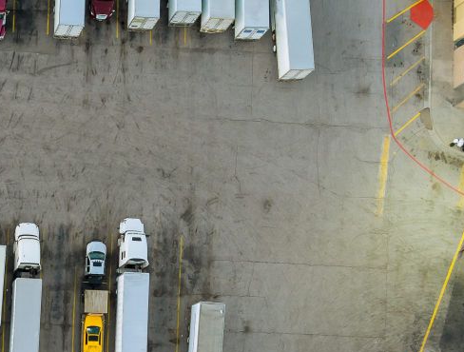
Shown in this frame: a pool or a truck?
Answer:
truck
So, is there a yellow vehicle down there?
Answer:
Yes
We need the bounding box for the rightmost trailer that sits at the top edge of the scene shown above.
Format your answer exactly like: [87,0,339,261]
[272,0,315,82]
